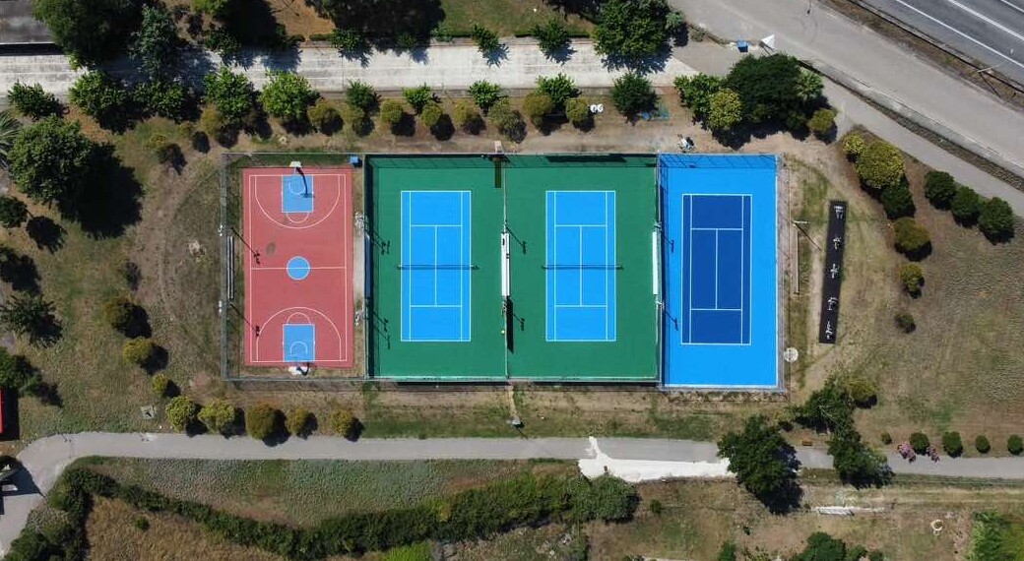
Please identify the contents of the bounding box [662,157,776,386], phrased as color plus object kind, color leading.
blue tennis court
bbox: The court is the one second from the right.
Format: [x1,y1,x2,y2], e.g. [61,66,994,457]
[507,158,657,378]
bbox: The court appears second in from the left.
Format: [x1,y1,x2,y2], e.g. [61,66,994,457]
[368,158,505,378]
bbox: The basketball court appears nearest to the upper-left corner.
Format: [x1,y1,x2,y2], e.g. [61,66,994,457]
[243,167,355,368]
